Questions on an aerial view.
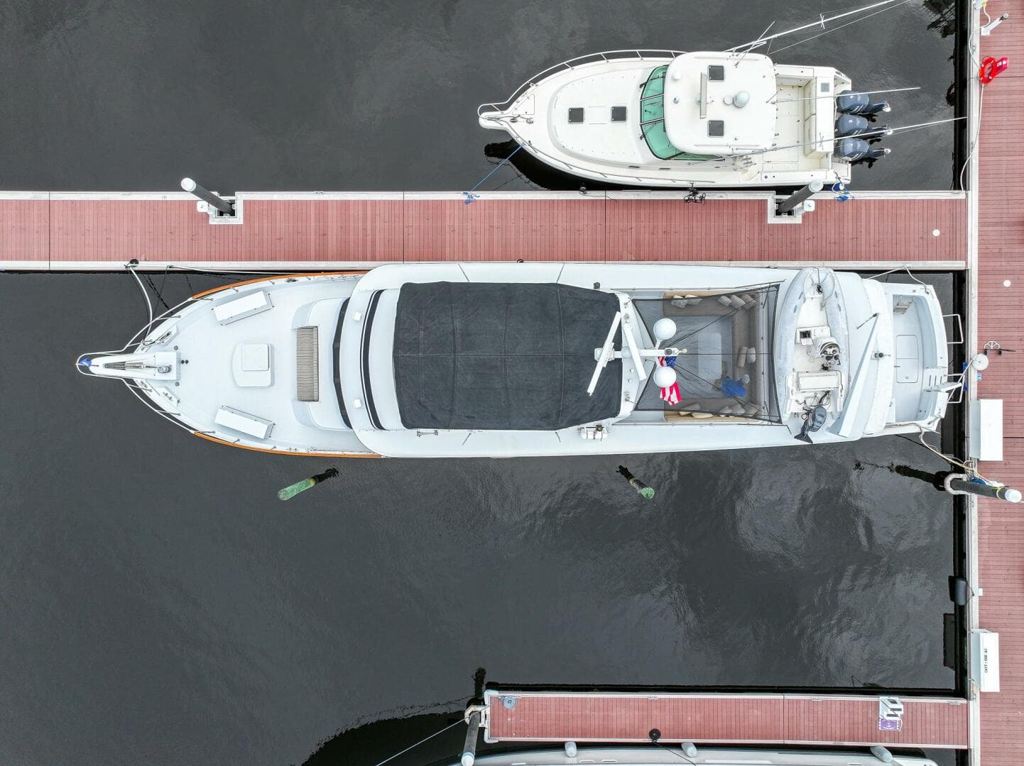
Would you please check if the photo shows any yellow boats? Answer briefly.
No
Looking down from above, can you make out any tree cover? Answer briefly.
No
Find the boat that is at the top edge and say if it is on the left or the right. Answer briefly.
right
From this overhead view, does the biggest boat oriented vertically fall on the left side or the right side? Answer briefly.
right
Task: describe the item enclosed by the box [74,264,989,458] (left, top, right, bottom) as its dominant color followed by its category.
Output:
white boat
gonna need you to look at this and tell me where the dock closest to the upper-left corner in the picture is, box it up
[0,186,967,271]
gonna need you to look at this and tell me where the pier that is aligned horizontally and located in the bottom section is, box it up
[484,687,968,750]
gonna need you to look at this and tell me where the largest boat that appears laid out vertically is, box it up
[775,267,852,441]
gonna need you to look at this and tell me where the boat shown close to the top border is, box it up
[477,0,967,189]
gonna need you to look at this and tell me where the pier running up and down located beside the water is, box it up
[962,0,1024,766]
